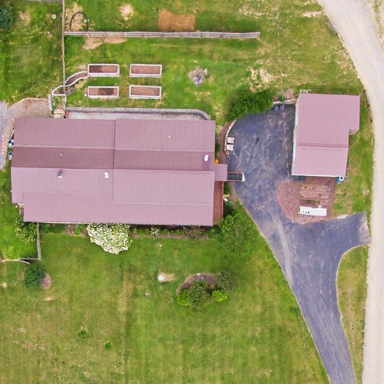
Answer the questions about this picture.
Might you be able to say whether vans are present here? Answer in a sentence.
No, I find no van anywhere in the image.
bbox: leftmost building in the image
[12,118,228,226]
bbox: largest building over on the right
[289,94,360,179]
